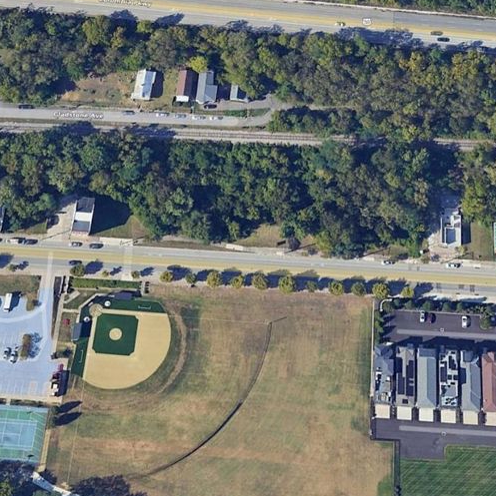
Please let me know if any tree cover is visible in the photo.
Yes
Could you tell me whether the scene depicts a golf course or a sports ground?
sports ground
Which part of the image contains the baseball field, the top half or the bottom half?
bottom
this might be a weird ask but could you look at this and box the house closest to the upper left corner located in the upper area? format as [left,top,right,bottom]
[132,69,156,105]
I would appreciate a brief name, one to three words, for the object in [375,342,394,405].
house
